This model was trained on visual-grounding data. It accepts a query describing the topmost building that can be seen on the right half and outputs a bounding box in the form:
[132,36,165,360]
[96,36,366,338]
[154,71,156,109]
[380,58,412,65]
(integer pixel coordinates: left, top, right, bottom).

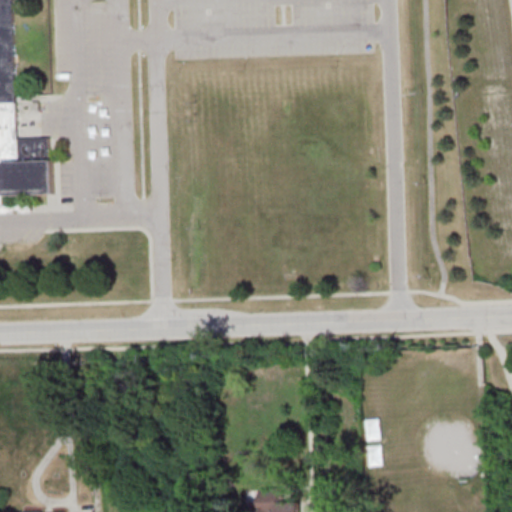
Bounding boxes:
[364,418,382,442]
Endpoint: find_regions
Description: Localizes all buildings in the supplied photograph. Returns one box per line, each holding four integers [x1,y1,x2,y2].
[0,0,49,194]
[254,489,298,512]
[366,444,384,470]
[364,418,382,442]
